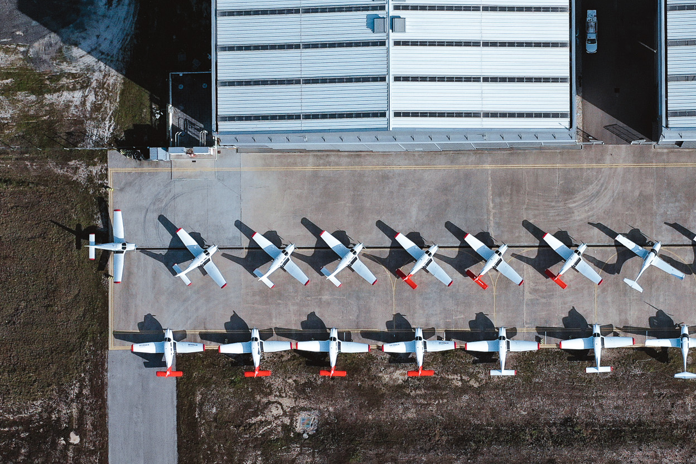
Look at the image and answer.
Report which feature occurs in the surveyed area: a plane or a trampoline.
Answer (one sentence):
Of the two, only a plane appears.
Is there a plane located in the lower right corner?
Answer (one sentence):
Yes, I can see a plane in the lower right corner.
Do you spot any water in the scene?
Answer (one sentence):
No, the picture contains no water.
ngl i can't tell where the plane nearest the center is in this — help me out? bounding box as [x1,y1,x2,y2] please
[319,232,376,288]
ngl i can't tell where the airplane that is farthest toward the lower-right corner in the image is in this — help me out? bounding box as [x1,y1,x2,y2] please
[646,325,696,378]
